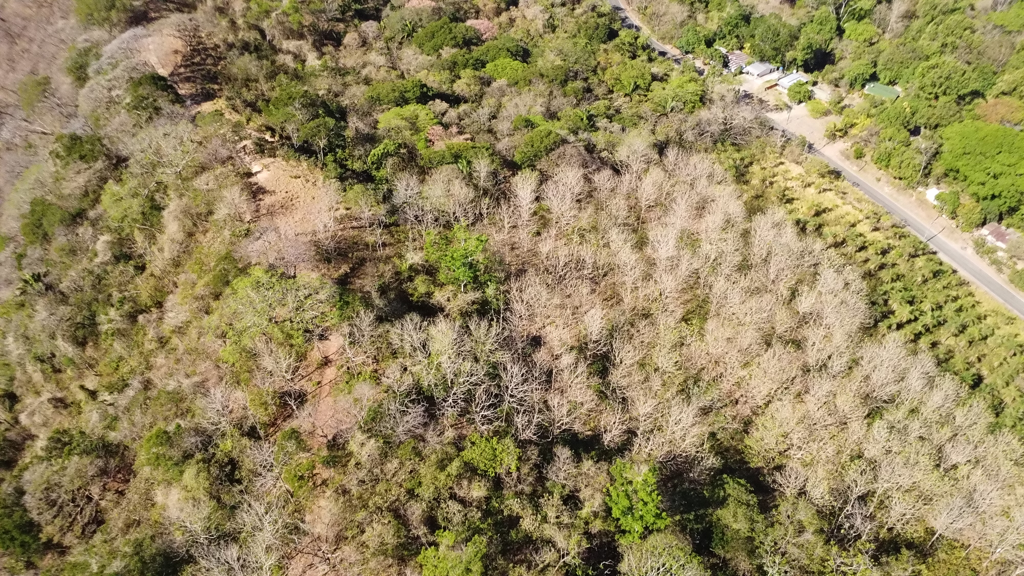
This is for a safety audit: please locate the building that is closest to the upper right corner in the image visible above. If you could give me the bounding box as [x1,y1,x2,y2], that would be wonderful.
[865,84,900,104]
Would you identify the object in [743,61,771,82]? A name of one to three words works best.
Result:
house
